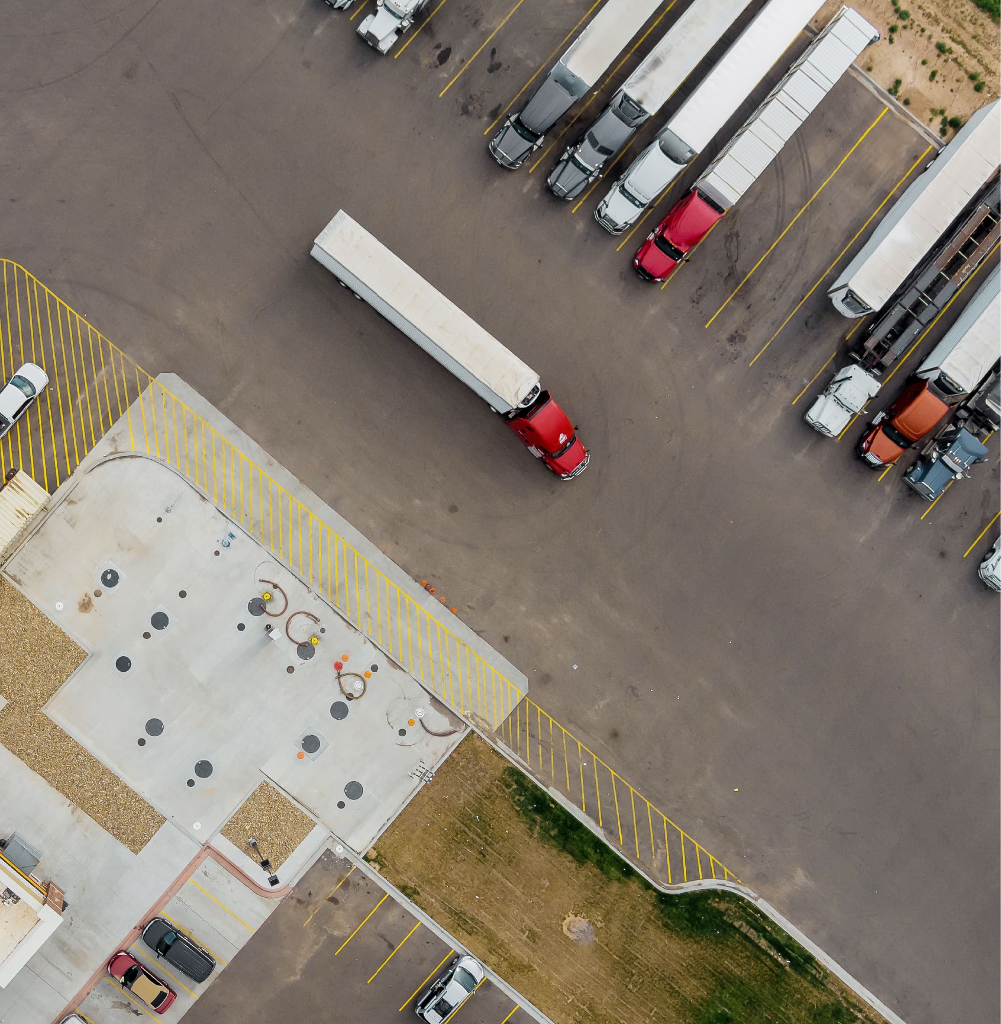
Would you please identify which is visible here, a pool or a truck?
truck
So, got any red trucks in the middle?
Yes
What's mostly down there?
paved ground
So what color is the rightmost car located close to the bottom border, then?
white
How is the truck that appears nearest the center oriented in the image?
diagonally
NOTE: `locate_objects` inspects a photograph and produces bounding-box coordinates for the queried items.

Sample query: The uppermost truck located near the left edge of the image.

[0,364,48,441]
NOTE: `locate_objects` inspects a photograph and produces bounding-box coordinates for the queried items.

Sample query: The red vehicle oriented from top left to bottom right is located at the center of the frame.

[488,392,590,480]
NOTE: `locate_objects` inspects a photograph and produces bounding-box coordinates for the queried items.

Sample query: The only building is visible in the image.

[0,844,65,988]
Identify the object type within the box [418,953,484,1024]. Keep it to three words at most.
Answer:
car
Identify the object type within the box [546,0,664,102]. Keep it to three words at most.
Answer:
trailer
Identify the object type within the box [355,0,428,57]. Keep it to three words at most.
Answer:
truck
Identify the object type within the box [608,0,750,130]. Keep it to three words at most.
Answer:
trailer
